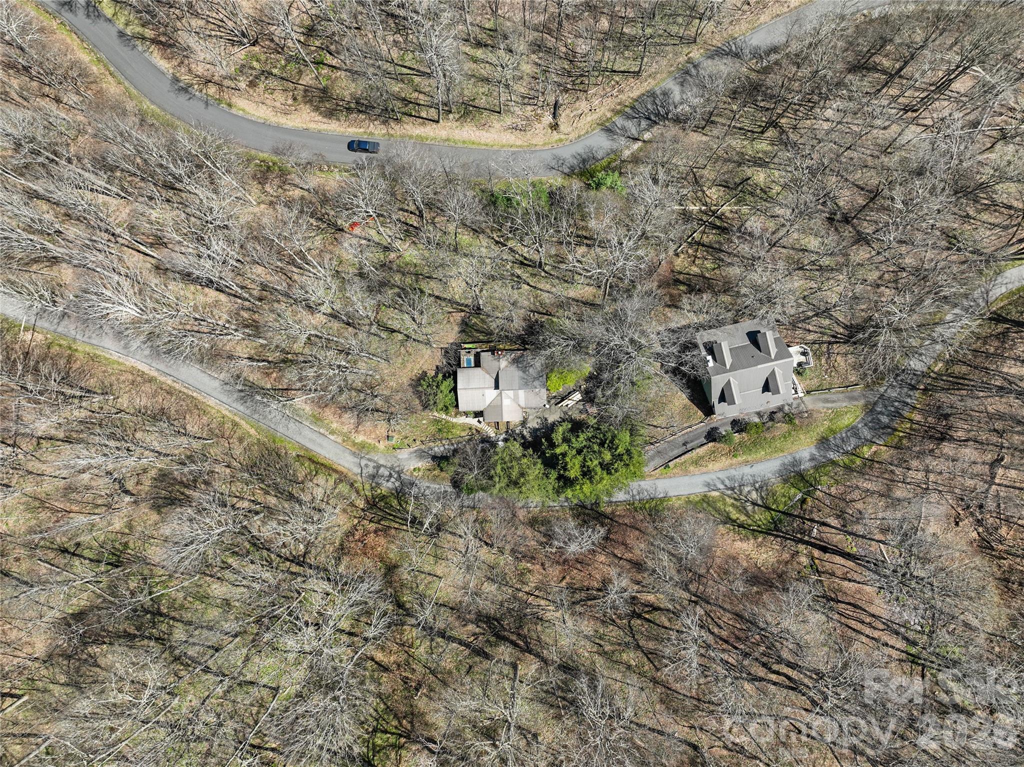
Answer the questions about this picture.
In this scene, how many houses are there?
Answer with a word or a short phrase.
2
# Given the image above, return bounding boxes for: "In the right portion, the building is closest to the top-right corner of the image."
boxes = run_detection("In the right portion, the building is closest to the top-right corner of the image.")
[693,317,795,420]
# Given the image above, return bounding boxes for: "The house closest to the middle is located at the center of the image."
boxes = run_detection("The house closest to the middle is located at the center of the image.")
[457,347,547,422]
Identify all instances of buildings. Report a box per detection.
[457,347,547,422]
[693,317,795,420]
